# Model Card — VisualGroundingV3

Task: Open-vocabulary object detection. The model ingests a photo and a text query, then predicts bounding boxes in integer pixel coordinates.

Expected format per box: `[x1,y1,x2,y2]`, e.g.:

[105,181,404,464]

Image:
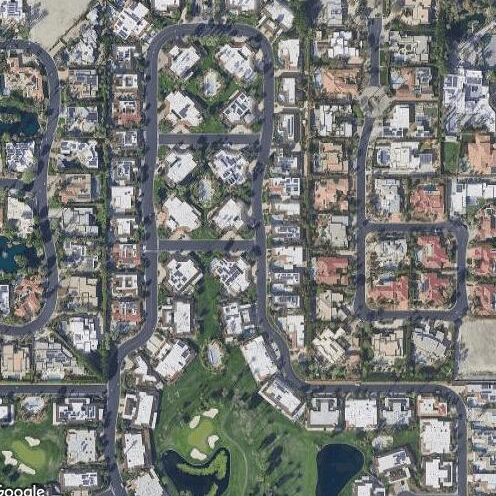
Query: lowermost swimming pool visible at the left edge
[21,393,47,416]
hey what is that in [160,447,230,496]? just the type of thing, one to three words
pond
